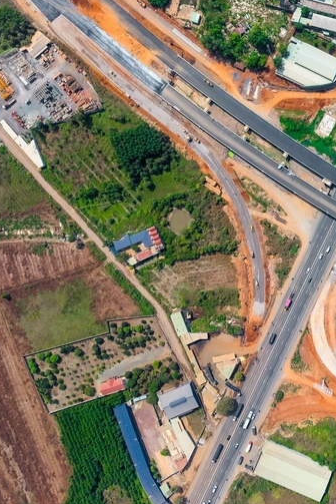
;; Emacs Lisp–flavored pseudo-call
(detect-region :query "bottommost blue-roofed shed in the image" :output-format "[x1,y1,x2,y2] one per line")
[135,457,170,504]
